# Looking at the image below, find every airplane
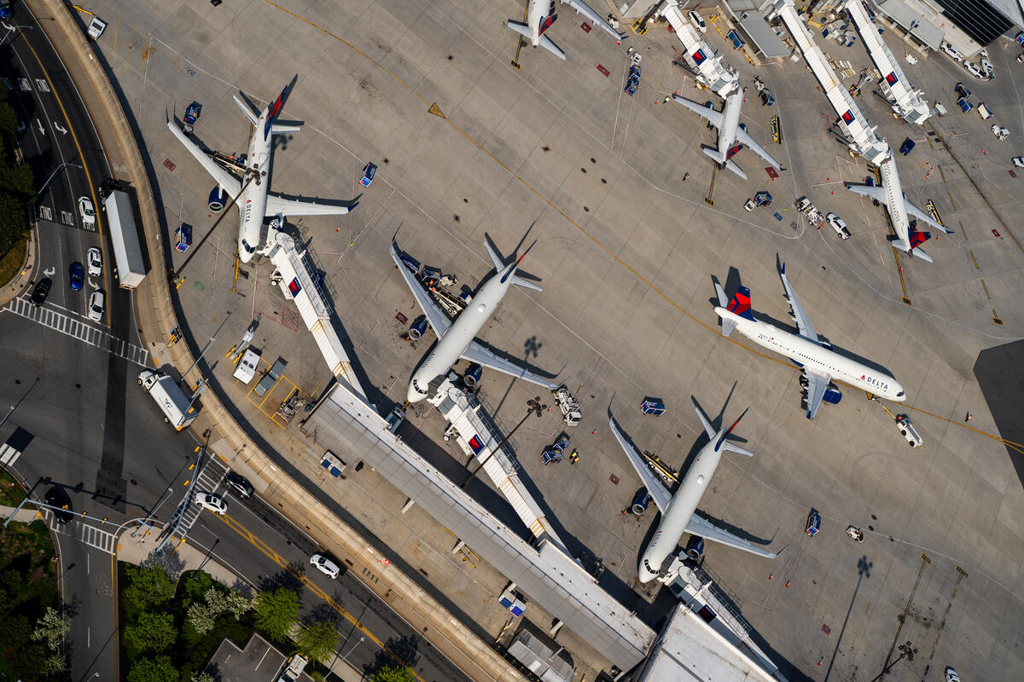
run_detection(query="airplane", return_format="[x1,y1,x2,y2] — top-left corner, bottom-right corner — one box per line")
[161,85,363,264]
[509,0,631,58]
[713,262,908,420]
[673,82,790,178]
[388,231,570,404]
[607,406,789,585]
[846,150,959,262]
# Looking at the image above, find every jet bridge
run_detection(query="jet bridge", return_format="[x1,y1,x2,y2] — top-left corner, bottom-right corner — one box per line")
[658,0,742,102]
[257,228,377,408]
[428,377,589,566]
[833,0,927,130]
[779,0,886,165]
[657,556,795,682]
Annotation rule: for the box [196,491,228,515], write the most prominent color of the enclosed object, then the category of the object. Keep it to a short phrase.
white car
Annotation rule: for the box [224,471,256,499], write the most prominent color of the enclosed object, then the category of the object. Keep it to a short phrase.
black car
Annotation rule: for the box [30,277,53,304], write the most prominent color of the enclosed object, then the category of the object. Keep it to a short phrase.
black car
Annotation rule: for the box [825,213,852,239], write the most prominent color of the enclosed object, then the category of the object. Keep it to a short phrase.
white truck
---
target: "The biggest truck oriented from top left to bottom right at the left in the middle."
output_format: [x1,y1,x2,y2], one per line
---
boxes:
[138,375,205,436]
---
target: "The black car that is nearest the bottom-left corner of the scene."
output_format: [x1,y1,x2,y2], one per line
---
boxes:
[46,487,70,521]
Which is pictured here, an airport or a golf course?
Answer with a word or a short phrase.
airport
